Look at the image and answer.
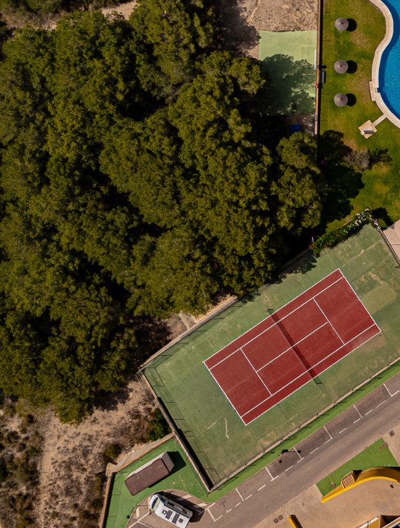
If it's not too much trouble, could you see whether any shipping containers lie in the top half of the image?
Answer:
No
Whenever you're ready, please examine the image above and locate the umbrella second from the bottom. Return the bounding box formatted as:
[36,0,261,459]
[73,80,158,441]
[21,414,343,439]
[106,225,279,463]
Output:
[334,59,348,73]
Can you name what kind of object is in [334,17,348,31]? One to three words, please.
umbrella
